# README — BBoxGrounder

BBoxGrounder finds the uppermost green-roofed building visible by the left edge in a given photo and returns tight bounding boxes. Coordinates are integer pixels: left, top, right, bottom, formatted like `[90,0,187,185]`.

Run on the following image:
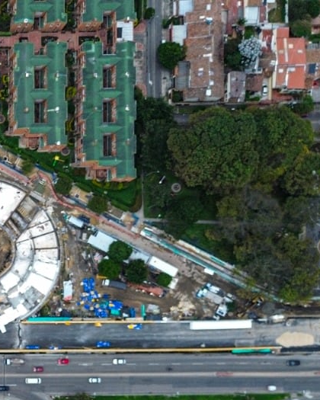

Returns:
[8,0,68,36]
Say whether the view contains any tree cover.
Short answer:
Yes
